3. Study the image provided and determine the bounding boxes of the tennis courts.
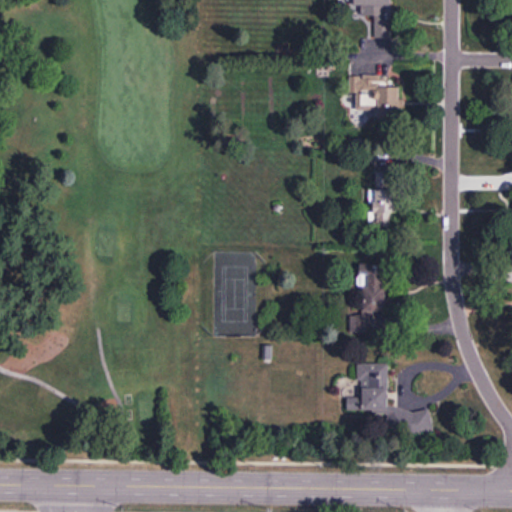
[214,252,256,336]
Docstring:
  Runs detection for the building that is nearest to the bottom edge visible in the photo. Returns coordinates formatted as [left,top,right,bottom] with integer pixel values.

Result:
[346,364,433,433]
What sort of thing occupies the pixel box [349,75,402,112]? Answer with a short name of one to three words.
house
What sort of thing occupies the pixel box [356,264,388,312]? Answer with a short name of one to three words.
house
